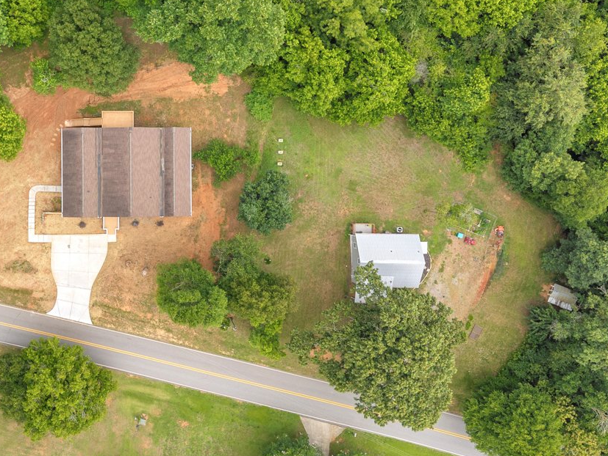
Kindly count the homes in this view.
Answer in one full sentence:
The picture shows 2 homes.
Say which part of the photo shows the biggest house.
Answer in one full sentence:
You can find the biggest house in the left area of the picture.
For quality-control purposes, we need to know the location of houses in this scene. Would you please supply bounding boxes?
[61,127,193,234]
[351,223,428,303]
